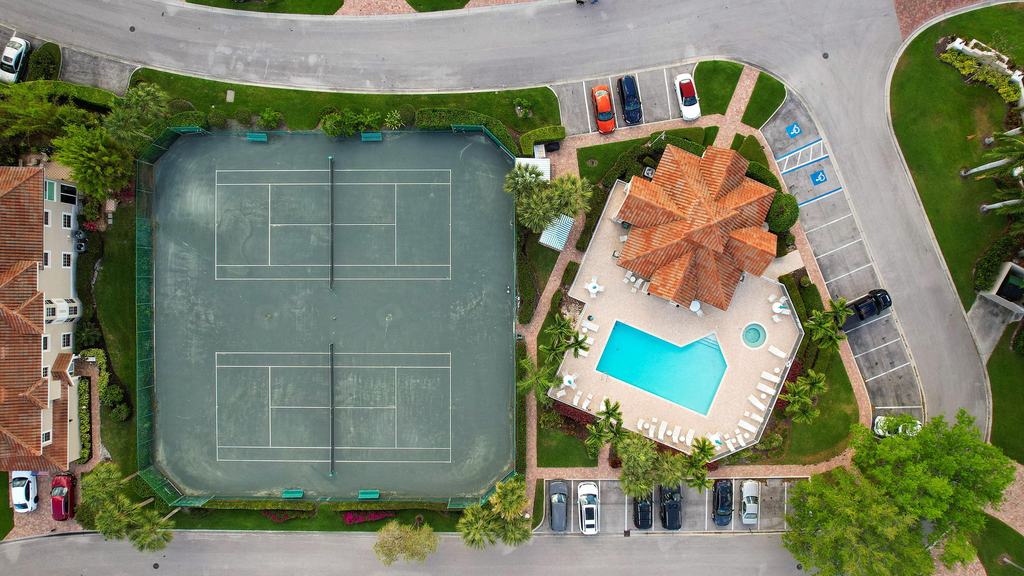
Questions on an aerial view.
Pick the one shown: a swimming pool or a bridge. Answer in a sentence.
There is a swimming pool in the scene.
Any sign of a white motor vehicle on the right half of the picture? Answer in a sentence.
Yes, a white motor vehicle can be seen on the right half of the picture.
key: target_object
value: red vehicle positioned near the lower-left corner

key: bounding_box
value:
[46,472,75,522]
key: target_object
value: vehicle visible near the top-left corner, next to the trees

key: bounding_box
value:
[0,32,30,79]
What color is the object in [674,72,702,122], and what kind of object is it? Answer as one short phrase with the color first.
white car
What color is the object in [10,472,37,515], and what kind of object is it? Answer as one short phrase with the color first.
white car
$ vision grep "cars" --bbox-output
[738,477,761,524]
[657,480,682,531]
[872,418,922,441]
[10,472,37,515]
[0,32,30,79]
[576,479,600,532]
[631,490,654,530]
[616,74,644,126]
[46,472,75,522]
[674,72,702,122]
[547,479,570,530]
[591,85,617,134]
[711,477,735,525]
